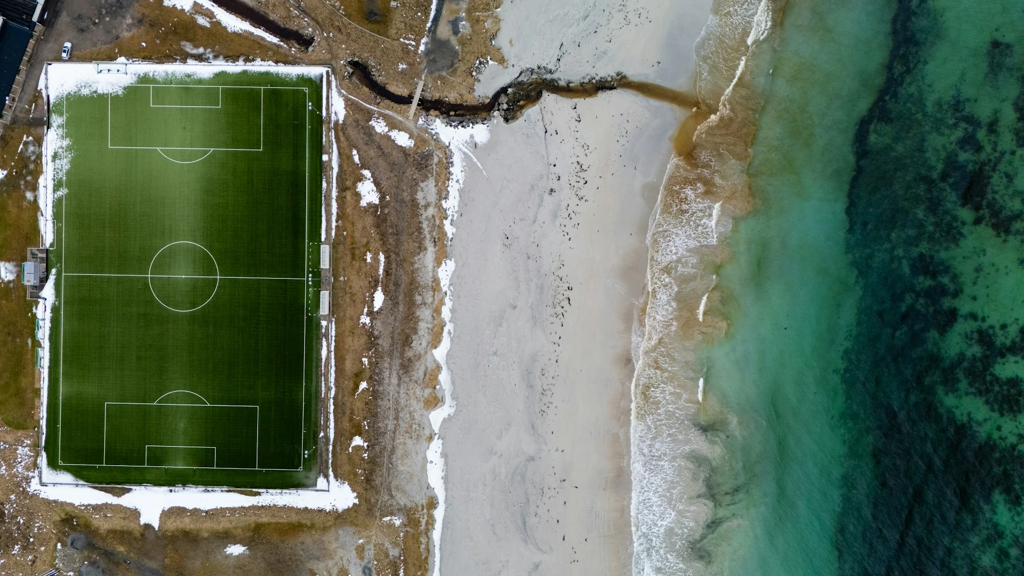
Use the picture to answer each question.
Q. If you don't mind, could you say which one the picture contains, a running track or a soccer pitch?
soccer pitch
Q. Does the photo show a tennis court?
No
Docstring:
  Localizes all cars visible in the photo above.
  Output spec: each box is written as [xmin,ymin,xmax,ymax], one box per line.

[59,41,71,59]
